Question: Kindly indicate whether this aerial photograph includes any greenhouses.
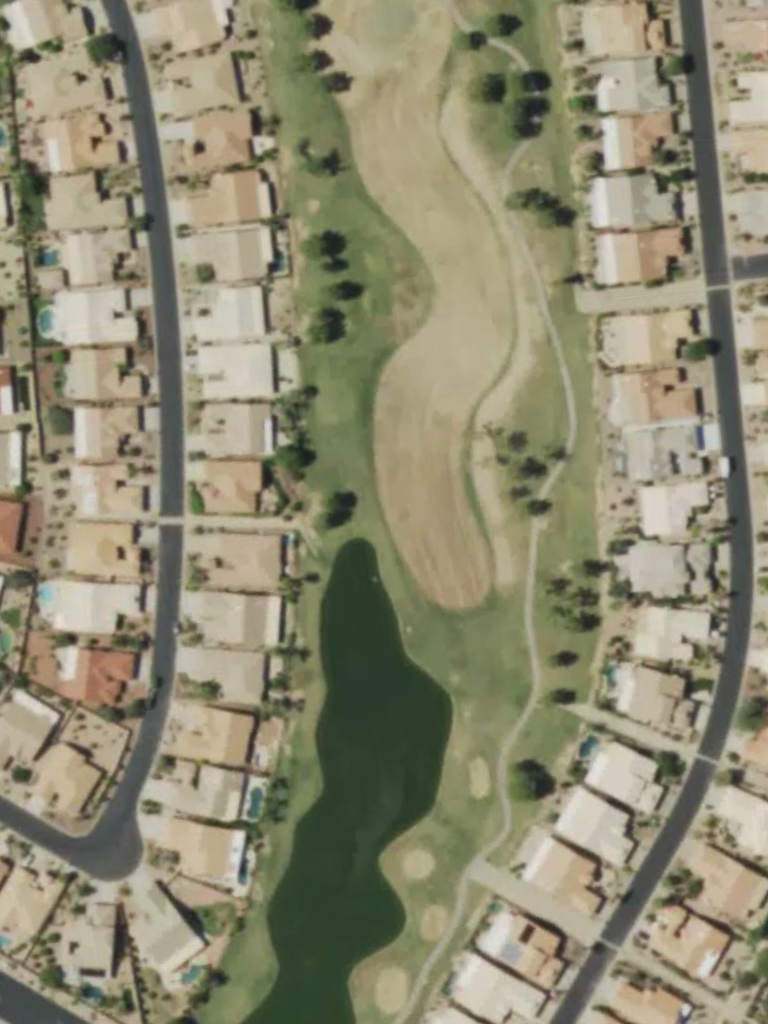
No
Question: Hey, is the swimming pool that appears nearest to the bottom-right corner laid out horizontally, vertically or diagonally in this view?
diagonally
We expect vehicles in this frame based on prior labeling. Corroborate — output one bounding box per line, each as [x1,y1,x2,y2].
[719,457,729,476]
[172,624,178,633]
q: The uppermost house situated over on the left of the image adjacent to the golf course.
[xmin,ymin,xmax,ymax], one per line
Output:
[155,0,231,51]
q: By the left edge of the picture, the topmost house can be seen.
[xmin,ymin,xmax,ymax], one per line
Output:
[7,0,89,49]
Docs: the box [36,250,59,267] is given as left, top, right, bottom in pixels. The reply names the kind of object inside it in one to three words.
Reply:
swimming pool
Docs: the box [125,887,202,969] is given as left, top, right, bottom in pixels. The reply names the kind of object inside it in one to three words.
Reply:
house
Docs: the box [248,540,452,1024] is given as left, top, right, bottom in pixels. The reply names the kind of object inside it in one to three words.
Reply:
pond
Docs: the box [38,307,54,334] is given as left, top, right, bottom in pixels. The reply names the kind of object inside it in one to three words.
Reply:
swimming pool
